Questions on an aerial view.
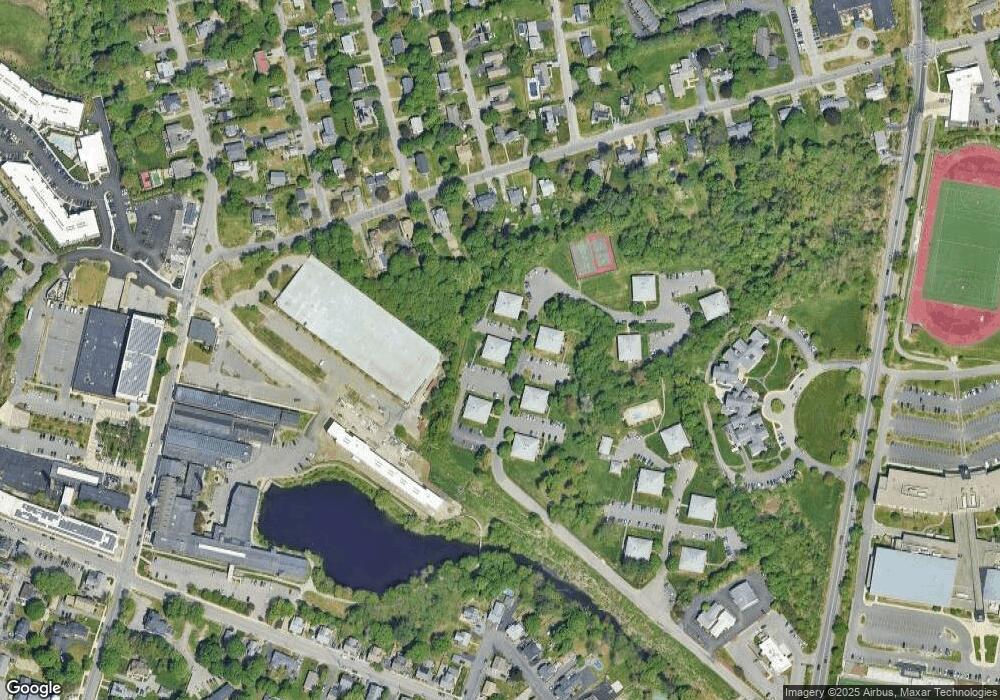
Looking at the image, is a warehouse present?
Yes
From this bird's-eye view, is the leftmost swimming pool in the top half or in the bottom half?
top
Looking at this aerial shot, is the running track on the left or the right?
right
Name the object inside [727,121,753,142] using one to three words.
house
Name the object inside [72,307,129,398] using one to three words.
building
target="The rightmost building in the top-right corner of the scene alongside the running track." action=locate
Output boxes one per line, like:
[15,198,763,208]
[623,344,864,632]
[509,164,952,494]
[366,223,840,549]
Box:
[946,66,982,123]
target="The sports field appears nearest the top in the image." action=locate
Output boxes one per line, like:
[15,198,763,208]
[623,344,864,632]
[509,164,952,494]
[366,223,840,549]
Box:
[923,181,1000,310]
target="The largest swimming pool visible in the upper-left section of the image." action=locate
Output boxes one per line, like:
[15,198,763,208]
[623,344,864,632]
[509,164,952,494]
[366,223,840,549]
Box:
[49,131,78,158]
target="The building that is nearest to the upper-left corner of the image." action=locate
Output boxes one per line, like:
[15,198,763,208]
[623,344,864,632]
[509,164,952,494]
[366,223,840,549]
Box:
[0,62,86,134]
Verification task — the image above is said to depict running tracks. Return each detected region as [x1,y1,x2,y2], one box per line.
[913,144,1000,346]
